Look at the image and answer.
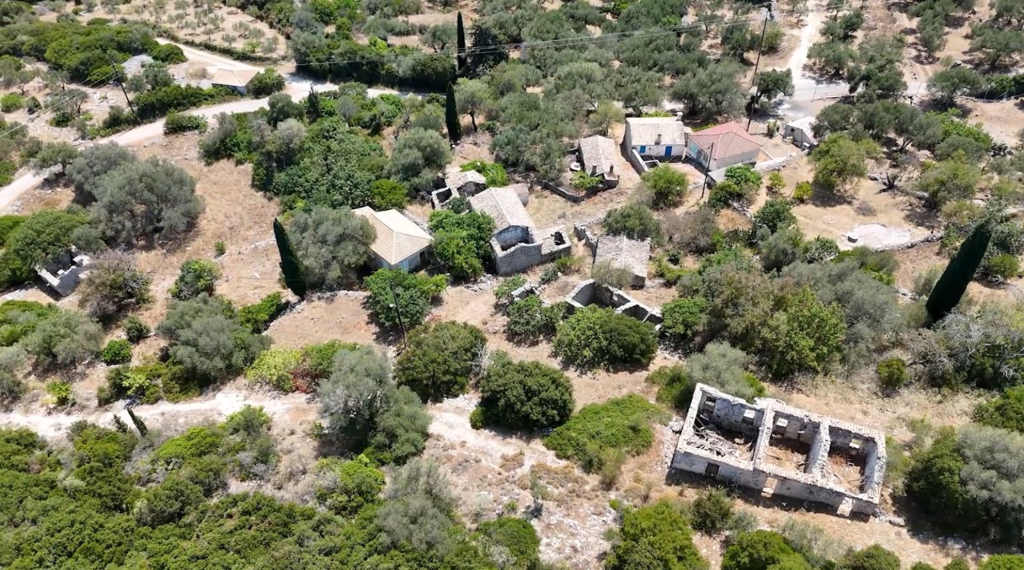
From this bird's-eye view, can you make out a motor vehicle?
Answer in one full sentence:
No, the frame has no motor vehicle in it.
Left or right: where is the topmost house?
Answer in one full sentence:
The topmost house is on the left side of the image.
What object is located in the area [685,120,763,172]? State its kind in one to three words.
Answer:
house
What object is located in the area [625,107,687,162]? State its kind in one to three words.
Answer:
house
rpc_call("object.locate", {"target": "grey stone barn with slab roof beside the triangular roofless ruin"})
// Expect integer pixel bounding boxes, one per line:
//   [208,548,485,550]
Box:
[589,234,654,290]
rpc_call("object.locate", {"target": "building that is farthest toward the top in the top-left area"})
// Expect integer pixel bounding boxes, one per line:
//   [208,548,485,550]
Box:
[211,66,263,99]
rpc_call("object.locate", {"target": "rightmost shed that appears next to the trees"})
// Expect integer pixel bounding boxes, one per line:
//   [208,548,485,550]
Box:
[784,118,831,152]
